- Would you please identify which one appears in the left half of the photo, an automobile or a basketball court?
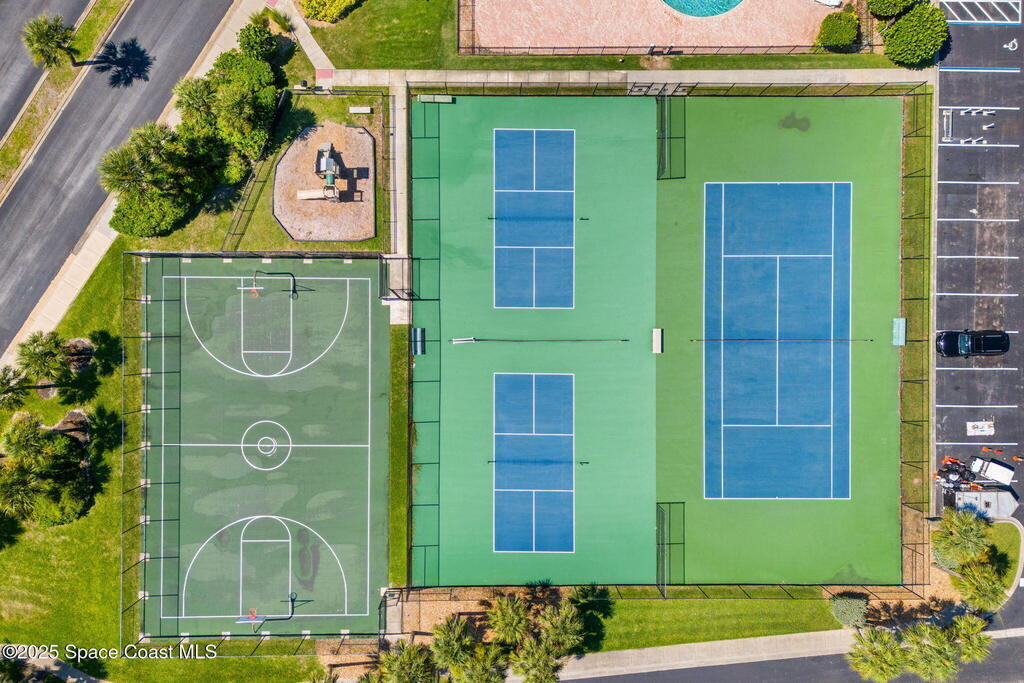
basketball court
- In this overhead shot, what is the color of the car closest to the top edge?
black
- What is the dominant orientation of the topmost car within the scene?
horizontally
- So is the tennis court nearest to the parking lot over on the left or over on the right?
right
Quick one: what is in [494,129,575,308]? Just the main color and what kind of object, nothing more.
blue sports court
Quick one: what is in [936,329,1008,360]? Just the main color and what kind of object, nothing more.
black car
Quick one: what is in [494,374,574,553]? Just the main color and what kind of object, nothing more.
blue sports court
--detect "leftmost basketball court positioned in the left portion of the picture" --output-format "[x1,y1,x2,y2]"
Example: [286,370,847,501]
[140,258,390,640]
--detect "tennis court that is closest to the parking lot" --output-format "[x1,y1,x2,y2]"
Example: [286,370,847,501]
[657,96,901,585]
